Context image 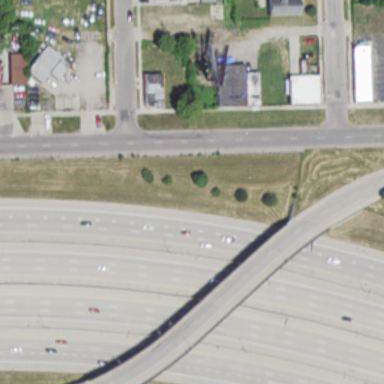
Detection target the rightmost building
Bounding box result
[354,45,372,102]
